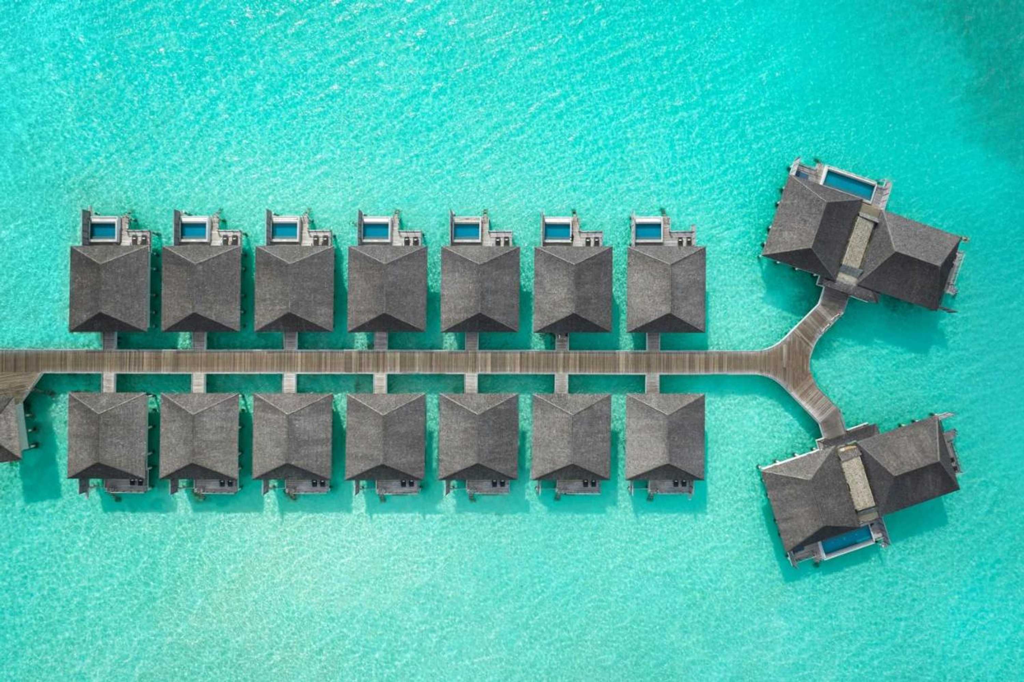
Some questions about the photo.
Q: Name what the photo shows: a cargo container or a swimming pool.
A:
swimming pool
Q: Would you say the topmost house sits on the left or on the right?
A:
right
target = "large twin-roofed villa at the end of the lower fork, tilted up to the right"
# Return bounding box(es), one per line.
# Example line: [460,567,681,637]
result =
[754,412,970,568]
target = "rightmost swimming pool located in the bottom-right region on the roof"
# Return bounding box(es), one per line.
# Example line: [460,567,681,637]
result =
[821,525,873,556]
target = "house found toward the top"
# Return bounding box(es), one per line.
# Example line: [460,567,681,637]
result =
[754,157,971,316]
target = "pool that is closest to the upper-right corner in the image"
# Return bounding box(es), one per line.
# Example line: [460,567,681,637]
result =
[823,169,875,202]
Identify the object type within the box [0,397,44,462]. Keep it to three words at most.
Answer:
building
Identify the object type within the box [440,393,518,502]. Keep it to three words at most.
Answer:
house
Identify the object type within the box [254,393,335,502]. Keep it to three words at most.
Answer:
house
